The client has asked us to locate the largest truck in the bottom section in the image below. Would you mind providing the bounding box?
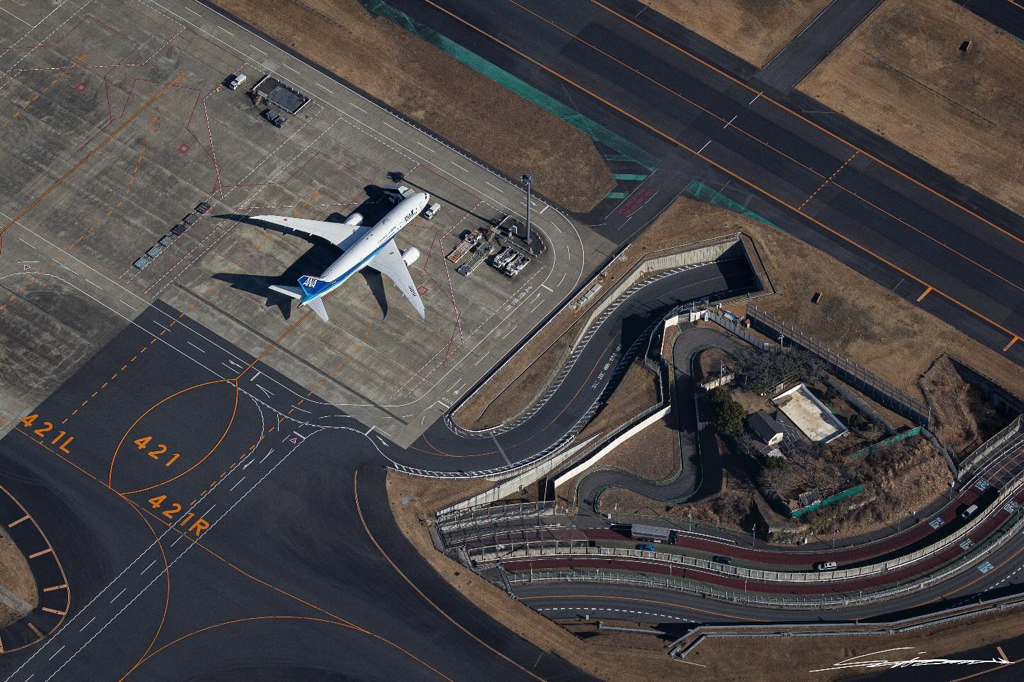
[631,524,677,546]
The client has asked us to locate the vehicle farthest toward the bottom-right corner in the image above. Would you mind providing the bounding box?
[961,503,979,519]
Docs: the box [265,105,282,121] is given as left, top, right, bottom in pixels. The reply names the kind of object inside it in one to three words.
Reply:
work vehicle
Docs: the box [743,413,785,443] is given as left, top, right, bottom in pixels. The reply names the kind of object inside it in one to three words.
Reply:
house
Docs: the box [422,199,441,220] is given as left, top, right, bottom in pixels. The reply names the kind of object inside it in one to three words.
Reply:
vehicle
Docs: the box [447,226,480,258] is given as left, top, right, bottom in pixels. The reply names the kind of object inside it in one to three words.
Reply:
work vehicle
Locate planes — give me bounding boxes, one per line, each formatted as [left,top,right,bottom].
[253,195,430,324]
